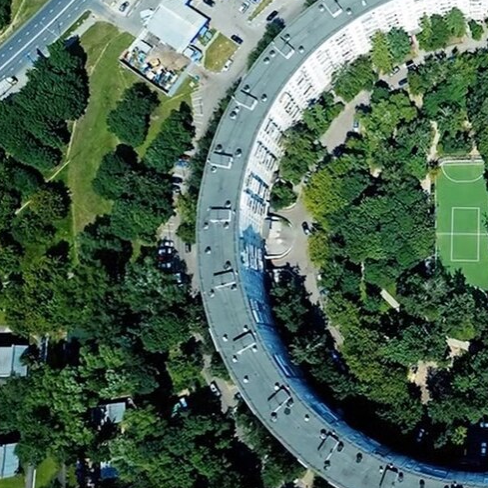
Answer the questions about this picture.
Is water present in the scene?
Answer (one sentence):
No, there is no water in the image.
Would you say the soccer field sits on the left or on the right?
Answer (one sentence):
The soccer field appears in the right half of the scene.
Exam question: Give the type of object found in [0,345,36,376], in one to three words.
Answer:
house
